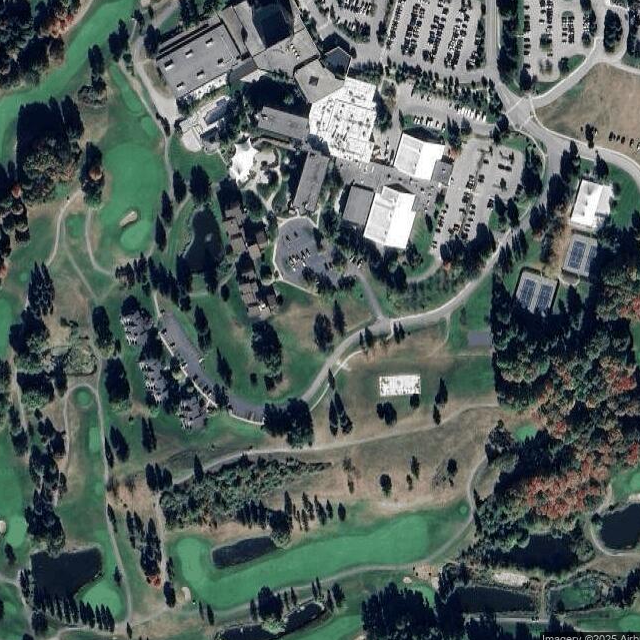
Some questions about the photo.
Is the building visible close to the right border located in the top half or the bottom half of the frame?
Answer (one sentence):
It is in the top half that the building visible close to the right border appears.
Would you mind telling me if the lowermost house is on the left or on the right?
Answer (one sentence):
The lowermost house sits on the left side.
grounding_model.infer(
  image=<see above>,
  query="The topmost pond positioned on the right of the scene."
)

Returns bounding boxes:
[599,503,640,548]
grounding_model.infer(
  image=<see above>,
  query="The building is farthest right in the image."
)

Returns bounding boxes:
[572,180,615,229]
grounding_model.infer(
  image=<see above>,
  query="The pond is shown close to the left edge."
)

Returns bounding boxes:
[31,545,102,597]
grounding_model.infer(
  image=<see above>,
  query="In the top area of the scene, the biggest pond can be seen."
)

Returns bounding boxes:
[185,207,223,273]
